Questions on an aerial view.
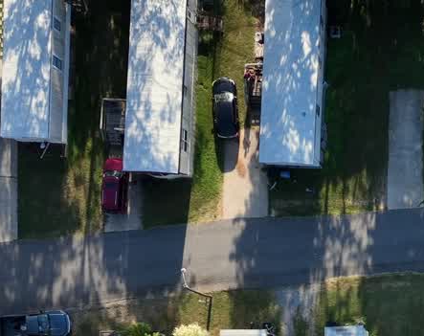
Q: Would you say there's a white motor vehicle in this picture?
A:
No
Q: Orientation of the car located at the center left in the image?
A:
from top to bottom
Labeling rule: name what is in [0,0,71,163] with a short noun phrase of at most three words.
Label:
house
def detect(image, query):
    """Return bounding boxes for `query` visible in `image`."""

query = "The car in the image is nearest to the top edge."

[212,80,240,140]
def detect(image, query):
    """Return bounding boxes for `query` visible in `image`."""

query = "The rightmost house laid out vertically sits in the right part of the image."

[259,0,326,171]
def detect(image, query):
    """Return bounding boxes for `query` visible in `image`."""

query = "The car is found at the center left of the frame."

[101,158,129,215]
